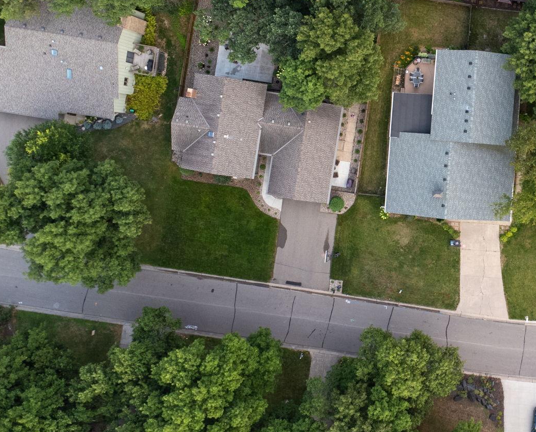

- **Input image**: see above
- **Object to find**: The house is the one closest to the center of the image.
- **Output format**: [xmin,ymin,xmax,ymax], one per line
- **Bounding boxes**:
[172,74,344,204]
